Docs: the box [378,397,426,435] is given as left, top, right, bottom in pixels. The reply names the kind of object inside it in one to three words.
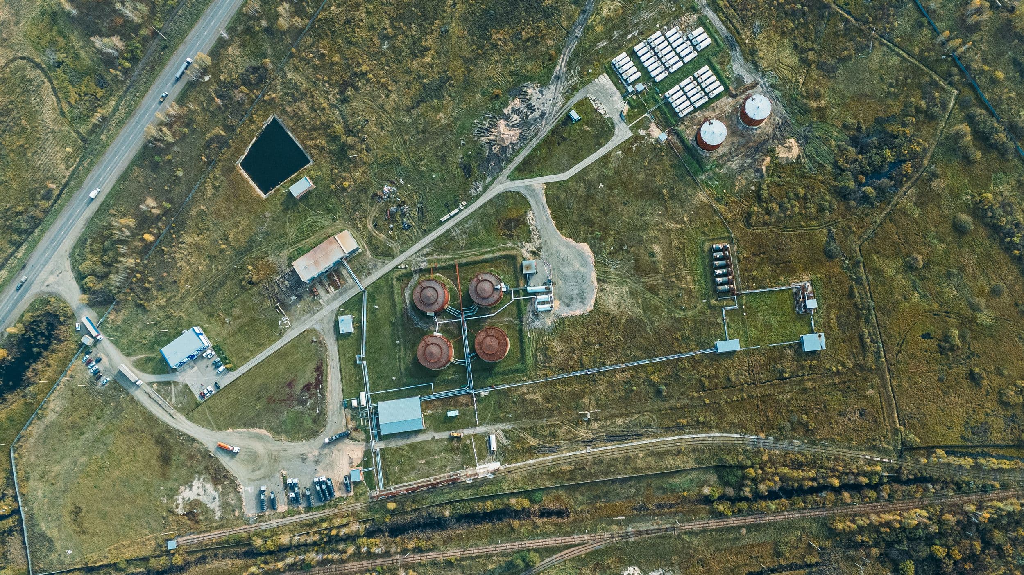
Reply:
building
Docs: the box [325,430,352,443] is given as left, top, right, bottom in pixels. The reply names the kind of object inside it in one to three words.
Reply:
vehicle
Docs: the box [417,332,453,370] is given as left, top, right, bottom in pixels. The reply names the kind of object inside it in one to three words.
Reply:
storage tank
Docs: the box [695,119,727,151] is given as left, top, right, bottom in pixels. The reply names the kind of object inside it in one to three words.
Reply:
storage tank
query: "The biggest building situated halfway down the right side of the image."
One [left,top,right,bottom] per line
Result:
[800,333,826,351]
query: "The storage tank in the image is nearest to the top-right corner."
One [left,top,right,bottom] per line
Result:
[739,94,772,127]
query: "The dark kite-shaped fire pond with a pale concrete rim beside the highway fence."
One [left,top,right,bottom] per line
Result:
[236,114,314,198]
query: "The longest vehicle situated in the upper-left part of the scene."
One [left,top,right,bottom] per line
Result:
[176,58,194,80]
